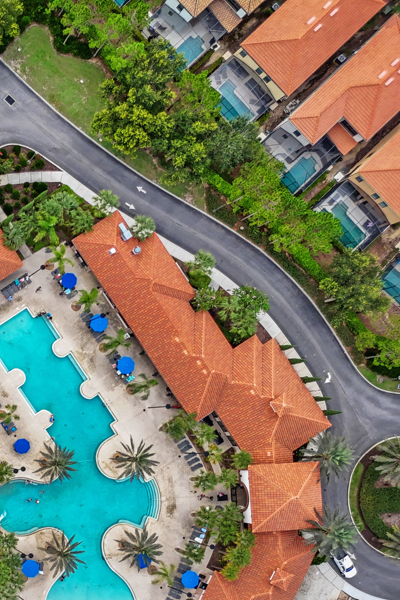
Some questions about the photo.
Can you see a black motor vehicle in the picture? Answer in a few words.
No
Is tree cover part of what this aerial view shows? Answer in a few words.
Yes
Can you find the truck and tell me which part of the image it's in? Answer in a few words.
bottom right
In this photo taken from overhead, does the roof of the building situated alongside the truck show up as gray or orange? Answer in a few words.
orange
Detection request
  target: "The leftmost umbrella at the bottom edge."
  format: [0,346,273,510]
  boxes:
[20,559,39,578]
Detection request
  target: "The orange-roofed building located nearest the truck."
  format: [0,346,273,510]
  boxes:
[71,210,333,600]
